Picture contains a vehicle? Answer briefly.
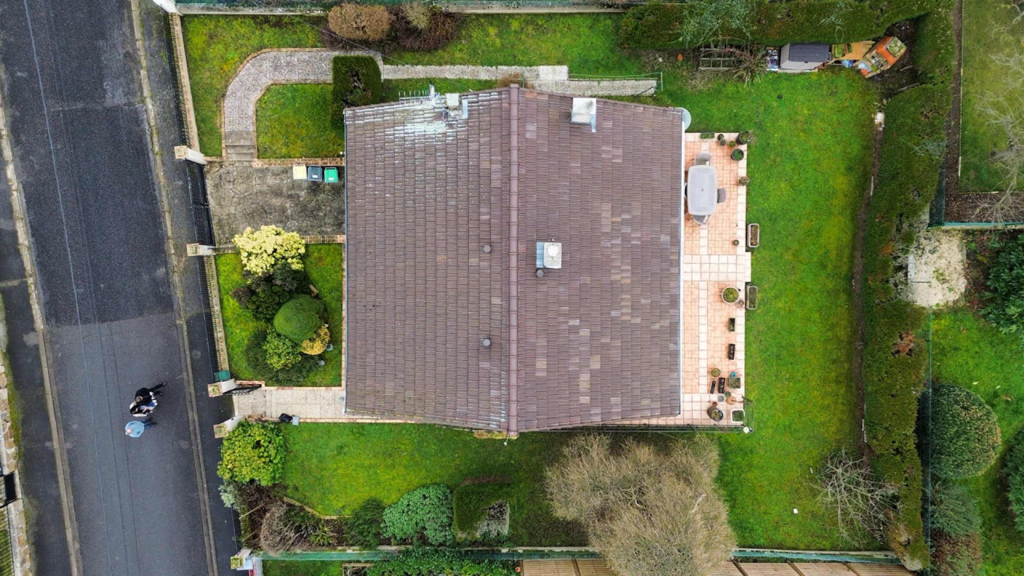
No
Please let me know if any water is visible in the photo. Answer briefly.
No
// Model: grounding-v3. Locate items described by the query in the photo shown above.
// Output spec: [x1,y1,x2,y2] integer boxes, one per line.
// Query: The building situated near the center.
[342,82,687,437]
